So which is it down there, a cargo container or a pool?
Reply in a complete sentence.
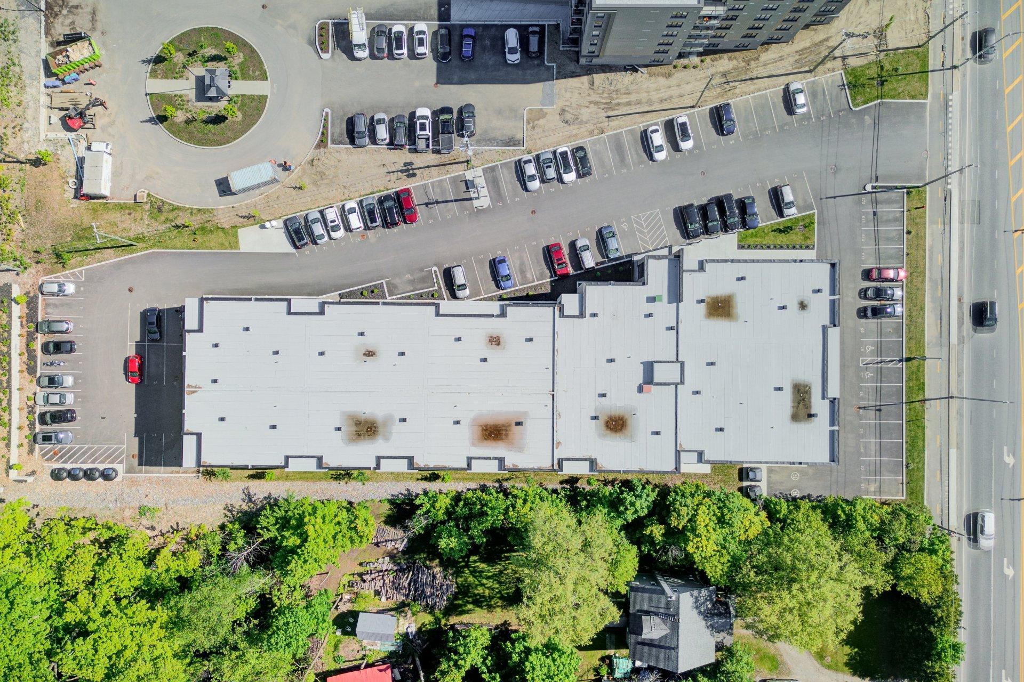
This aerial view contains a cargo container.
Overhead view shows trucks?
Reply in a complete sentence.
Yes, there's a truck down there.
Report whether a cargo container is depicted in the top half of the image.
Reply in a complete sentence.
Yes, you'll find a cargo container in the top half of the image.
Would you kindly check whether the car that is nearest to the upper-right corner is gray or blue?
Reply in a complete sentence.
The color of the car that is nearest to the upper-right corner is gray.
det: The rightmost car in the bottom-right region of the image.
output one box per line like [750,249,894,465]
[978,511,999,549]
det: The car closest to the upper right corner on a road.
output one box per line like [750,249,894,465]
[977,26,999,64]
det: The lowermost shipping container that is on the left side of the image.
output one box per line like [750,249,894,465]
[228,163,283,197]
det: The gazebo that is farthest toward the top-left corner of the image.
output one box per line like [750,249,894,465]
[209,71,238,103]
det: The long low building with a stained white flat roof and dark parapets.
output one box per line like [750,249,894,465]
[183,245,840,475]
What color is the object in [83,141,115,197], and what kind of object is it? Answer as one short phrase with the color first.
white truck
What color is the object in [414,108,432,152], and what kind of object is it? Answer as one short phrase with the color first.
white vehicle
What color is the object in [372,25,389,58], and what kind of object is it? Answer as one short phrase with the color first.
gray car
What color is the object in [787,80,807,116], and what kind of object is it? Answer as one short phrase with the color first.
white car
